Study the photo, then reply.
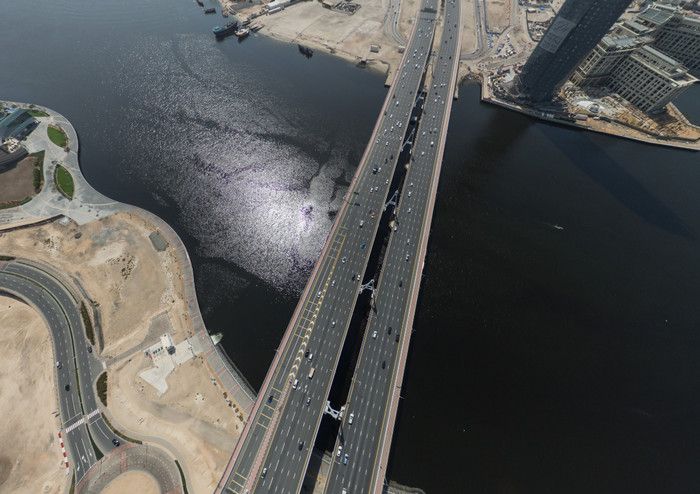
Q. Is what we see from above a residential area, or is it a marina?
marina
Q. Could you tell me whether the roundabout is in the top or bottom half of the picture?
bottom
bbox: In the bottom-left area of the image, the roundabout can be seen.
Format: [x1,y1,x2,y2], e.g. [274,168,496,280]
[69,439,185,494]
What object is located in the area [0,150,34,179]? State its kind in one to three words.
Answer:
building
